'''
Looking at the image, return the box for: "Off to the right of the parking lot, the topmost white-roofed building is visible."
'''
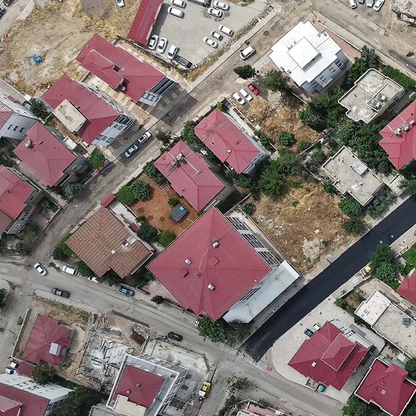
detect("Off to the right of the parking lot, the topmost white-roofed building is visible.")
[268,21,346,90]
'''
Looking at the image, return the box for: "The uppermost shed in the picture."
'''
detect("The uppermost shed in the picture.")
[127,0,169,46]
